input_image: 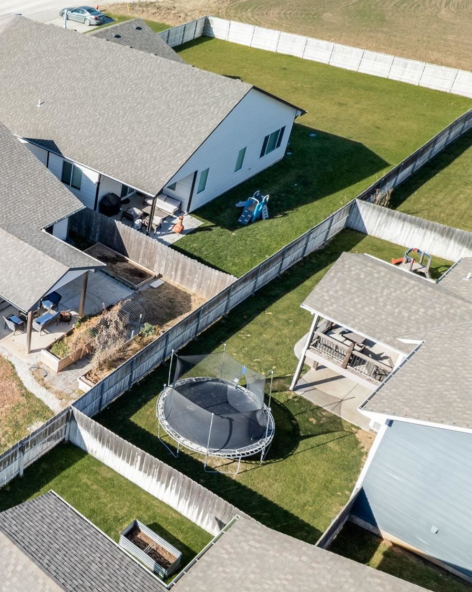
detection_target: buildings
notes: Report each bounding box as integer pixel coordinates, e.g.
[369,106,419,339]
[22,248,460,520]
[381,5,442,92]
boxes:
[0,7,307,232]
[0,488,411,592]
[286,251,472,575]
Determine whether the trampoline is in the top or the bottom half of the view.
bottom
